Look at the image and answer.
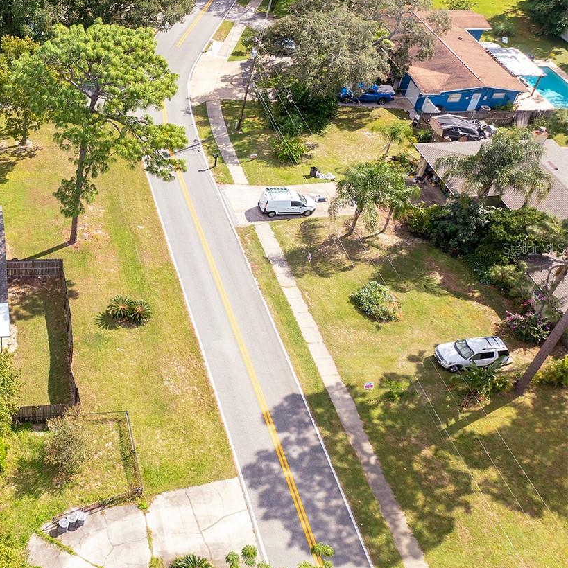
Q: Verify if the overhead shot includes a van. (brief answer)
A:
Yes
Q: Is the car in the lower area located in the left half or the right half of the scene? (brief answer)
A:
right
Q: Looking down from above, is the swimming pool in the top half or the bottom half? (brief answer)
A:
top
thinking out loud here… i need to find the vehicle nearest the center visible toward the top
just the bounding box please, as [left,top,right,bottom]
[258,188,319,218]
